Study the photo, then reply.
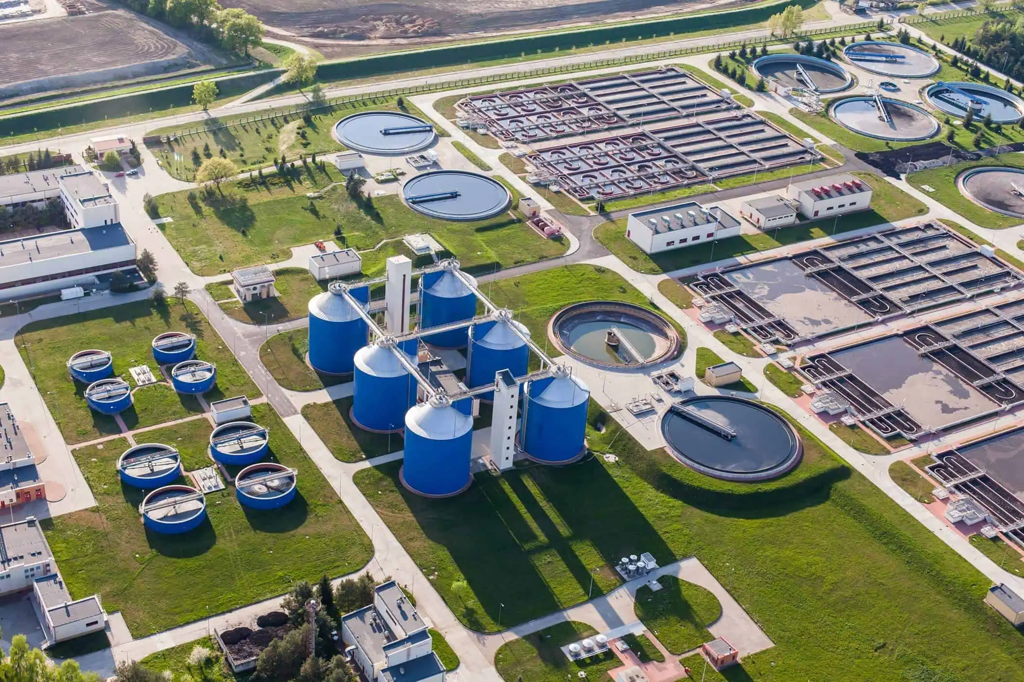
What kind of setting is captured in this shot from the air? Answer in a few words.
industrial area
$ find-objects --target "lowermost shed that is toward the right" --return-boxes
[702,637,737,671]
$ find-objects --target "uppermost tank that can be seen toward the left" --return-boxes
[336,110,436,154]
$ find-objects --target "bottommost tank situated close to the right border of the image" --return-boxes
[959,167,1024,219]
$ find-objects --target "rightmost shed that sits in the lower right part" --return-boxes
[983,585,1024,623]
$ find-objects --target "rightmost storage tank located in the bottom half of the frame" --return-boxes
[658,395,803,482]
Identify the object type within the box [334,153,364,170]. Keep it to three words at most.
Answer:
shed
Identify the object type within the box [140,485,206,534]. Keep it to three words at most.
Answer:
storage tank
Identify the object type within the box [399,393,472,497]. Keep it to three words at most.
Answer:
storage tank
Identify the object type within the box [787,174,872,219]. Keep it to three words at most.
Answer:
building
